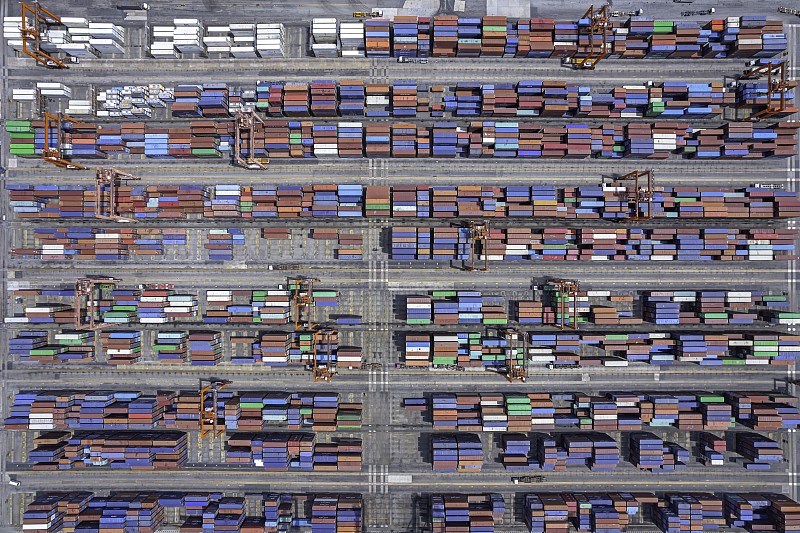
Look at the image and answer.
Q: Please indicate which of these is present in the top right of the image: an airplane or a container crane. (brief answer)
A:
container crane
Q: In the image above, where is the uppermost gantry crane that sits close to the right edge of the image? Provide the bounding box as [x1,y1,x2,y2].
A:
[736,61,786,122]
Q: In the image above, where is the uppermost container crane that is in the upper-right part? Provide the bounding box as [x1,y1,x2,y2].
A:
[572,5,608,70]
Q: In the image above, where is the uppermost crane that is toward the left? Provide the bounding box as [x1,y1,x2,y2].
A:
[20,1,71,66]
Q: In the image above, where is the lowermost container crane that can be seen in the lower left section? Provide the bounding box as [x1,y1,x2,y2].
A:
[199,380,236,439]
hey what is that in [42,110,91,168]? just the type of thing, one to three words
container crane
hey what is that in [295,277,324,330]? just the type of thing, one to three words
container crane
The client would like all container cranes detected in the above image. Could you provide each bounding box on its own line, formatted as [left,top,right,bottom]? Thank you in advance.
[545,278,578,331]
[312,325,341,382]
[462,221,490,271]
[572,5,608,70]
[235,110,269,168]
[199,380,236,439]
[95,168,140,221]
[295,277,324,330]
[498,327,527,383]
[20,1,71,66]
[42,110,91,168]
[736,61,786,122]
[75,277,121,329]
[613,170,652,224]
